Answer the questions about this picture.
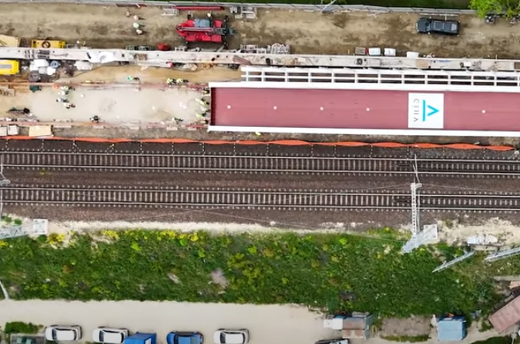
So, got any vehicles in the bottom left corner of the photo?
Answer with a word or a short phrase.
Yes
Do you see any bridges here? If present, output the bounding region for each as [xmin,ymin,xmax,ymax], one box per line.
[207,67,520,136]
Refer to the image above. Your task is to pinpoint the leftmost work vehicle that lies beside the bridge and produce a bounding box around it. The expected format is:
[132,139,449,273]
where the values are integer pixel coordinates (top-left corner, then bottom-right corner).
[177,10,240,47]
